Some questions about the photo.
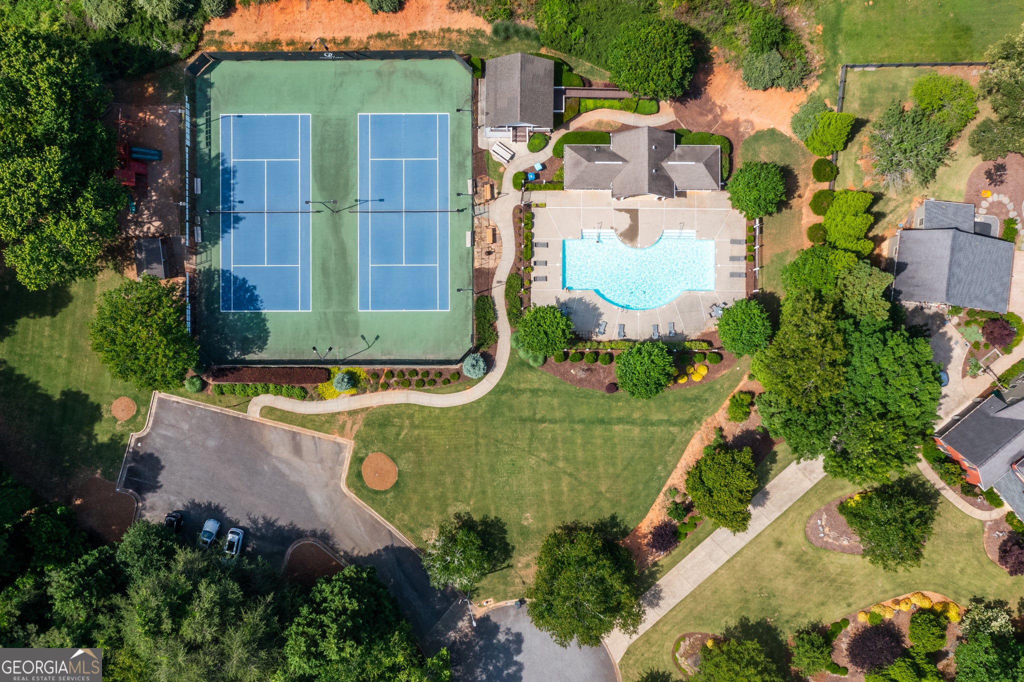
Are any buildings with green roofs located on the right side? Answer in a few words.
No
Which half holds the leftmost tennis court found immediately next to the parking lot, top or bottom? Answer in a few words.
top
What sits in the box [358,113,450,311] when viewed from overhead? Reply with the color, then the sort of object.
blue tennis court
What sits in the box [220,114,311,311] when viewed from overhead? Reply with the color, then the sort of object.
blue tennis court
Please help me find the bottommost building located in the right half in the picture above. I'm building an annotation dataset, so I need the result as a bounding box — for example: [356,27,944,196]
[932,371,1024,524]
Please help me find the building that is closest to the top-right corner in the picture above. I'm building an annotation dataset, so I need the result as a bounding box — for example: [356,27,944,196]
[883,200,1015,314]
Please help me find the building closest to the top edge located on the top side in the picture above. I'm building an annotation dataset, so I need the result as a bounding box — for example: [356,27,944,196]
[485,51,566,143]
